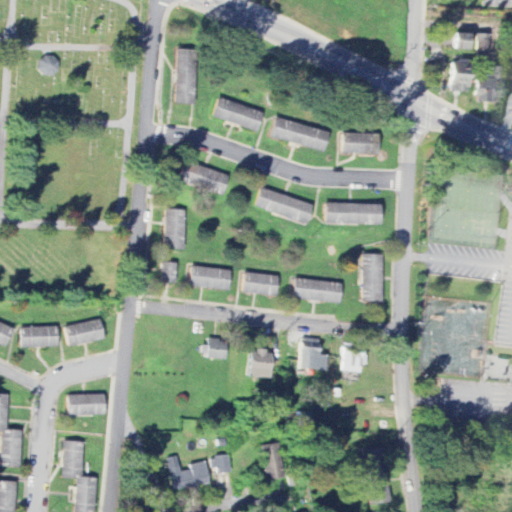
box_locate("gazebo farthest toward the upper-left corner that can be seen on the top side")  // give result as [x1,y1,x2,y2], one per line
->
[36,53,60,77]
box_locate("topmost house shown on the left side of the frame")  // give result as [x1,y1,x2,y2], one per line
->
[177,48,198,104]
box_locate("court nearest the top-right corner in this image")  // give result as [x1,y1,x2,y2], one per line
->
[429,172,504,249]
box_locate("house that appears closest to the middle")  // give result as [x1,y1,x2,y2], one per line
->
[242,272,280,296]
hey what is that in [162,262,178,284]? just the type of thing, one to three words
house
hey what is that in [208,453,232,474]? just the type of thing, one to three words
building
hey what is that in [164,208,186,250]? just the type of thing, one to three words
house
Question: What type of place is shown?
residential area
